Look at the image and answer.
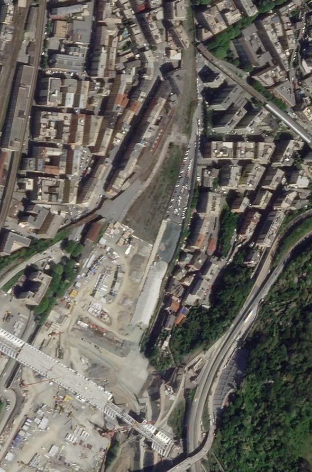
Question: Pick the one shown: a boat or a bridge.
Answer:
bridge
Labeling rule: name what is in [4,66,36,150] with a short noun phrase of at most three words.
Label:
train station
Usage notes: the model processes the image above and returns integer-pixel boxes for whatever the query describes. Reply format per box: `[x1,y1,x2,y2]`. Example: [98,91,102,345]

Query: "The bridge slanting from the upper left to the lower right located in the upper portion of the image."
[195,40,271,108]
